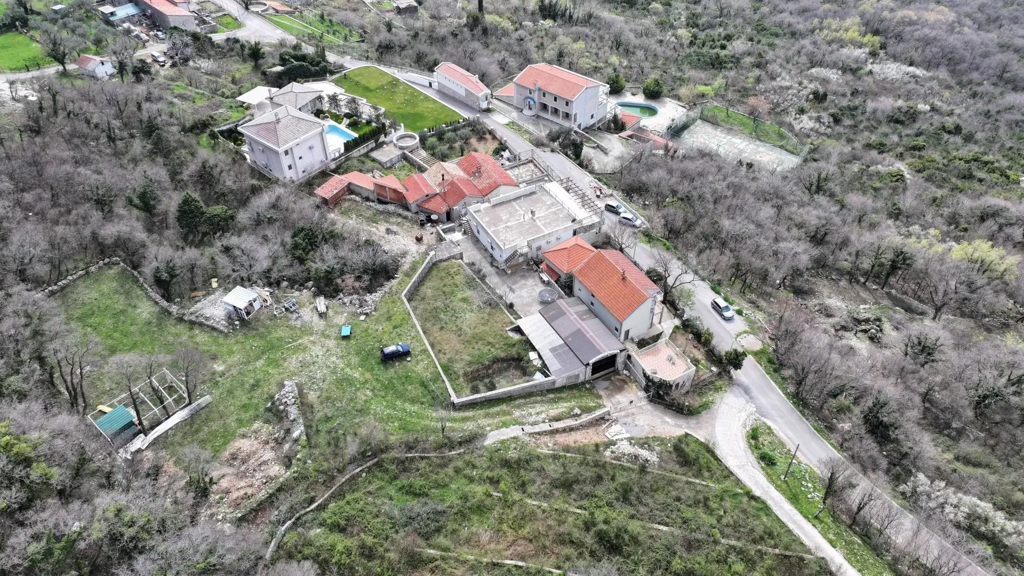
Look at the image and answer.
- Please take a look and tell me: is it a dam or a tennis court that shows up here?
tennis court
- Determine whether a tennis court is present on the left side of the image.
No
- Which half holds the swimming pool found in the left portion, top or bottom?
top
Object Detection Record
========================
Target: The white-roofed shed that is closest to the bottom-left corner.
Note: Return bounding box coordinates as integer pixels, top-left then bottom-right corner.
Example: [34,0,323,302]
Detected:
[220,286,262,320]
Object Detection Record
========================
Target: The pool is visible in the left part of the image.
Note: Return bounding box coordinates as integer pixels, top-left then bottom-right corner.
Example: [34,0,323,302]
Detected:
[323,121,351,141]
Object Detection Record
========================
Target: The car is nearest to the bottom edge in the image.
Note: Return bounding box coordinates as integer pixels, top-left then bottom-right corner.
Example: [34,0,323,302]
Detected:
[380,344,411,362]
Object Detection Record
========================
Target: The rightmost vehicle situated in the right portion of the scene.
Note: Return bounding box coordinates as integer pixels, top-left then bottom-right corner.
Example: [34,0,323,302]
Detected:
[711,297,737,319]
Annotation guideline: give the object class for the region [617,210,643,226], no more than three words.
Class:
car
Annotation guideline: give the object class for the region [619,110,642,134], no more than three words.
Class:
shed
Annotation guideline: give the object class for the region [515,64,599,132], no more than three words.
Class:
house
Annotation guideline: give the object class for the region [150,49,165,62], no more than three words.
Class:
vehicle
